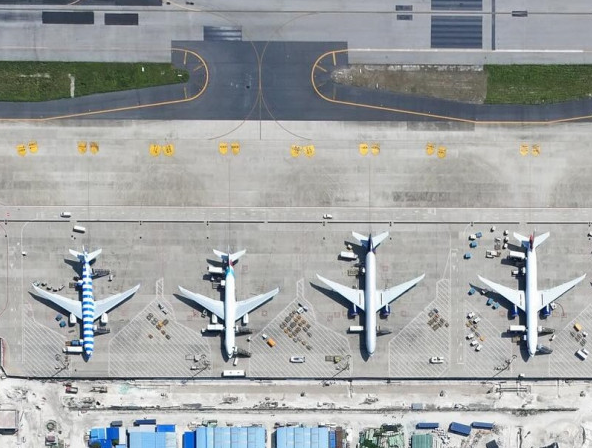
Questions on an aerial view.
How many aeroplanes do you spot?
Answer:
4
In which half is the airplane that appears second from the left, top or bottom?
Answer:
bottom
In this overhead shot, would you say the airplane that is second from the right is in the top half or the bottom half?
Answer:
bottom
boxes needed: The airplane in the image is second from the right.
[316,232,424,356]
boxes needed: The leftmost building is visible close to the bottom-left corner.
[0,409,17,428]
